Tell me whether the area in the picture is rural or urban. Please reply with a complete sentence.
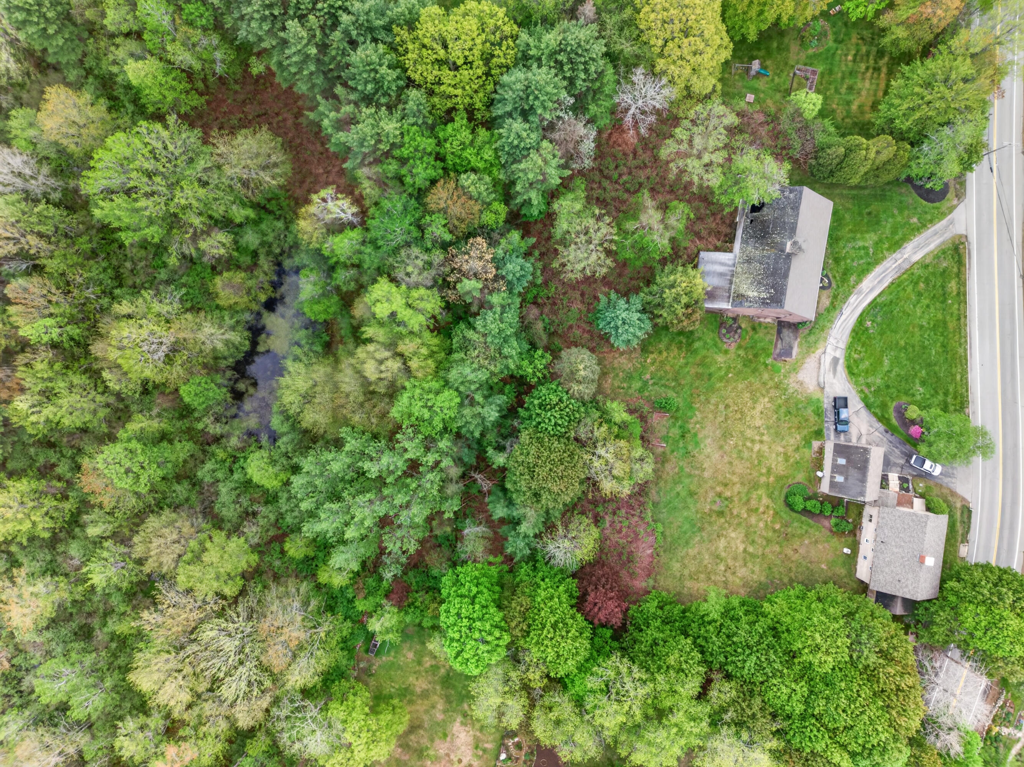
From above, the setting appears rural.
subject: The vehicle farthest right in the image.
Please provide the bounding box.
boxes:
[908,453,944,476]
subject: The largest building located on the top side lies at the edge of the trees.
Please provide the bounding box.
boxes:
[722,186,834,322]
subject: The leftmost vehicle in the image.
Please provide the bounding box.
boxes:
[834,396,853,433]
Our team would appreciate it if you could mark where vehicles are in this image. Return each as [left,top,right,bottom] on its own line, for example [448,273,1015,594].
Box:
[908,453,944,476]
[834,396,853,433]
